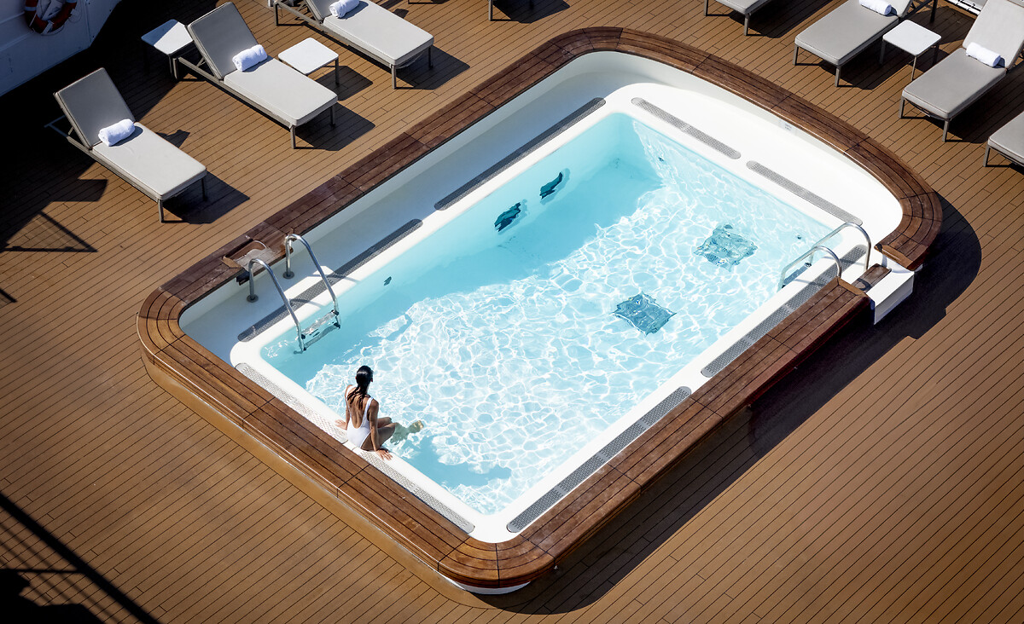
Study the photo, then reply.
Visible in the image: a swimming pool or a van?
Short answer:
swimming pool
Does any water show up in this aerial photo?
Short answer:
Yes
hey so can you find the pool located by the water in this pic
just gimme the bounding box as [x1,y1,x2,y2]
[137,24,952,612]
